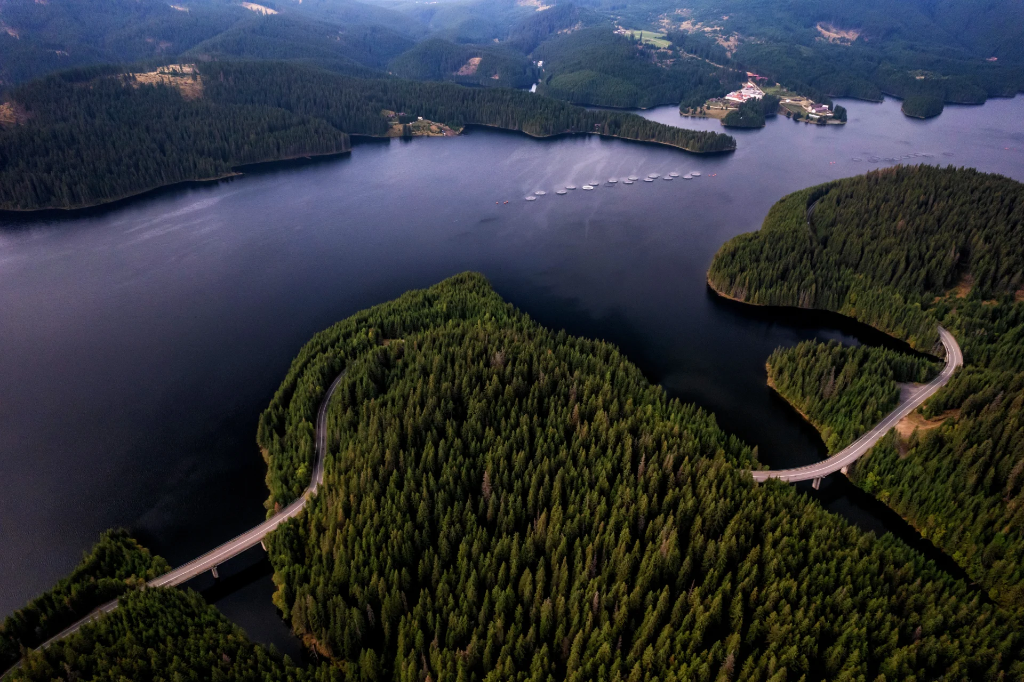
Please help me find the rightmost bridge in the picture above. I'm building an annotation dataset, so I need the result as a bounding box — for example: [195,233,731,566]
[942,325,965,366]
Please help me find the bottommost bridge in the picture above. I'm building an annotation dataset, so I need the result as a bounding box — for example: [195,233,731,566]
[149,510,289,591]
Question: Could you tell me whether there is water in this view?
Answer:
Yes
